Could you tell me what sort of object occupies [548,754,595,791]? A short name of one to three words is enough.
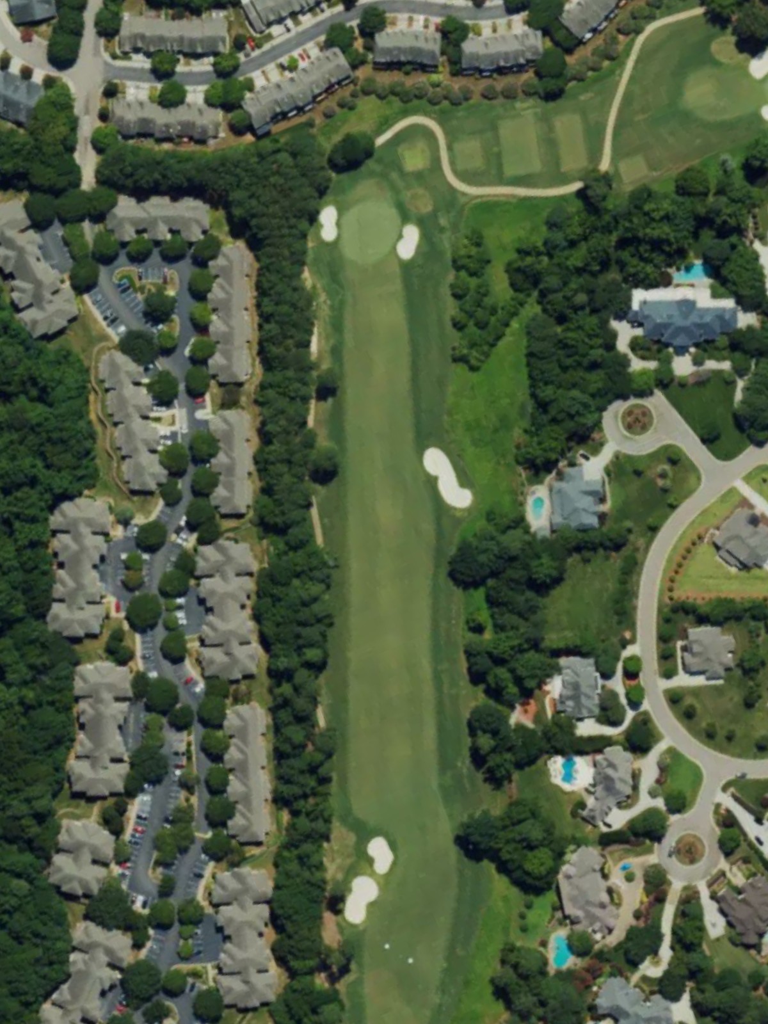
swimming pool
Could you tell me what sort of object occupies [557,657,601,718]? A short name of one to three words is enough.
house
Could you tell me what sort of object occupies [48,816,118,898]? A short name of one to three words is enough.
building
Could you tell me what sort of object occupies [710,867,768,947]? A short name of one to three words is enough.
house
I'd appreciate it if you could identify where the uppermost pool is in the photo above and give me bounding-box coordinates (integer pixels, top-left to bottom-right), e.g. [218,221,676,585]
[670,260,716,291]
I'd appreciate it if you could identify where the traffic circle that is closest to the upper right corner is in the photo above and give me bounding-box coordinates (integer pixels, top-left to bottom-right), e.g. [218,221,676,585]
[602,388,668,453]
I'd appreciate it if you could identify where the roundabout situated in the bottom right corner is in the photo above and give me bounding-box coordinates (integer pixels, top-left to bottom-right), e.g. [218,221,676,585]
[660,818,721,879]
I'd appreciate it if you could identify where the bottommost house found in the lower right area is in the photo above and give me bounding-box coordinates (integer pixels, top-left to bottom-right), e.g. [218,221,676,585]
[592,973,677,1024]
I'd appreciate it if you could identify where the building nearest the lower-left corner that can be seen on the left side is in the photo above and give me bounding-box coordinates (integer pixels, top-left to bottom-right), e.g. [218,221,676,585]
[41,916,131,1024]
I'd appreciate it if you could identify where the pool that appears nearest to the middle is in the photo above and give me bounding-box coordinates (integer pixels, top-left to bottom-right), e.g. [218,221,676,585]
[526,484,551,530]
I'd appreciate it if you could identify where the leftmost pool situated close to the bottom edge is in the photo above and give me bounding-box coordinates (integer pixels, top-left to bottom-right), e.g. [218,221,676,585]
[549,929,577,974]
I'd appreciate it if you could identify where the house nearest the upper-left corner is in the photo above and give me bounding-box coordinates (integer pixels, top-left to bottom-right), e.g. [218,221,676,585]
[7,0,58,29]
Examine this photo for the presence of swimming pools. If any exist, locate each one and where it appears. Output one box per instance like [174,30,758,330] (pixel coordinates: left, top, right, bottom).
[670,260,716,291]
[526,484,551,530]
[549,929,577,974]
[548,754,595,791]
[618,861,633,873]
